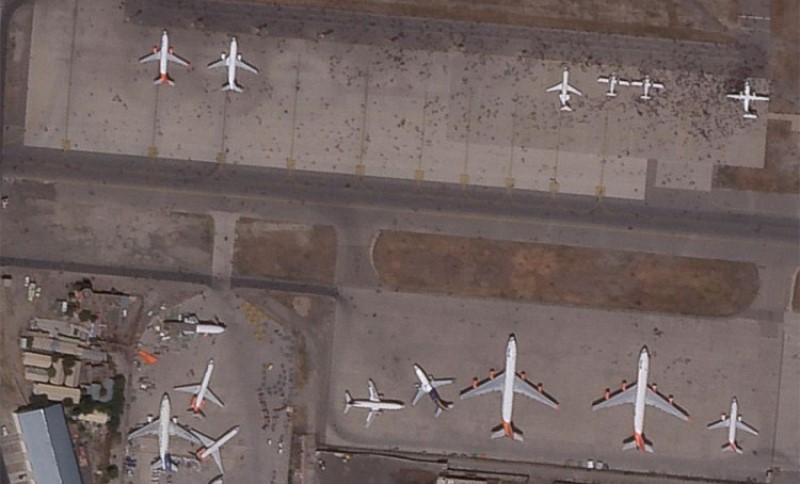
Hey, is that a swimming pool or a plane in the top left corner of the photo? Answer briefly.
plane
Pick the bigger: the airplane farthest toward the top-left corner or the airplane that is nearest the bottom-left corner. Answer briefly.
the airplane that is nearest the bottom-left corner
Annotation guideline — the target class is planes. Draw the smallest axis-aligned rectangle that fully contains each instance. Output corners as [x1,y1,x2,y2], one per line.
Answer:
[166,314,225,335]
[461,334,561,440]
[175,358,225,419]
[598,73,630,97]
[347,380,405,428]
[189,426,238,474]
[591,346,691,451]
[414,364,454,417]
[546,67,580,108]
[139,31,190,86]
[212,476,222,484]
[727,82,768,116]
[708,397,759,453]
[631,77,664,100]
[127,393,201,471]
[209,37,257,91]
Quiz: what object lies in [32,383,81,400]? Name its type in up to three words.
house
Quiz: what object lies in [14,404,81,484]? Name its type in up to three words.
hangar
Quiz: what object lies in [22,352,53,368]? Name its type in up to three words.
house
